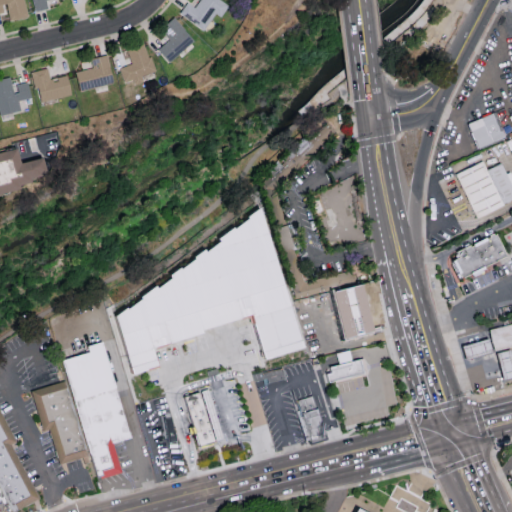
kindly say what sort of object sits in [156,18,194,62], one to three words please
house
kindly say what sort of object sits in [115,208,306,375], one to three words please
warehouse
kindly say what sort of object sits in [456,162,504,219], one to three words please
building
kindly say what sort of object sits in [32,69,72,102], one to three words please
house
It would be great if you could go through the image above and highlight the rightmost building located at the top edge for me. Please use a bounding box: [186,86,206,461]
[182,0,229,31]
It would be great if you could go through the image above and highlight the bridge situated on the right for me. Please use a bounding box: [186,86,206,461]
[339,0,384,76]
